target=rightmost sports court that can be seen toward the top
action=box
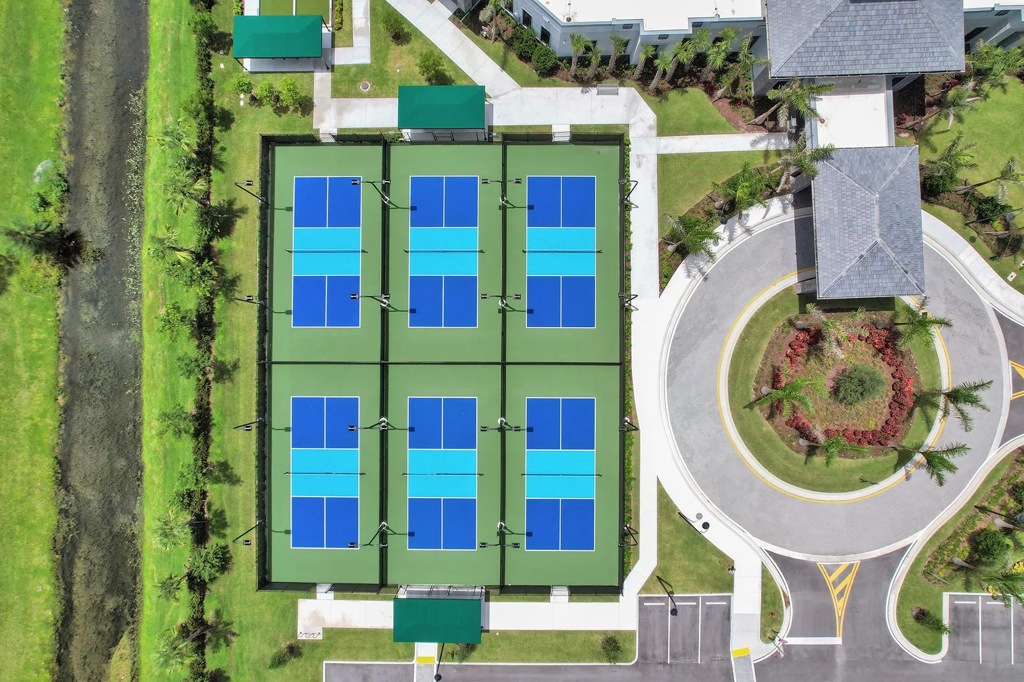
[502,141,620,363]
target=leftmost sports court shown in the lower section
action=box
[268,363,385,584]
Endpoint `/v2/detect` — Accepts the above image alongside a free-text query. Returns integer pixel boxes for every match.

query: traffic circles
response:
[659,212,1013,565]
